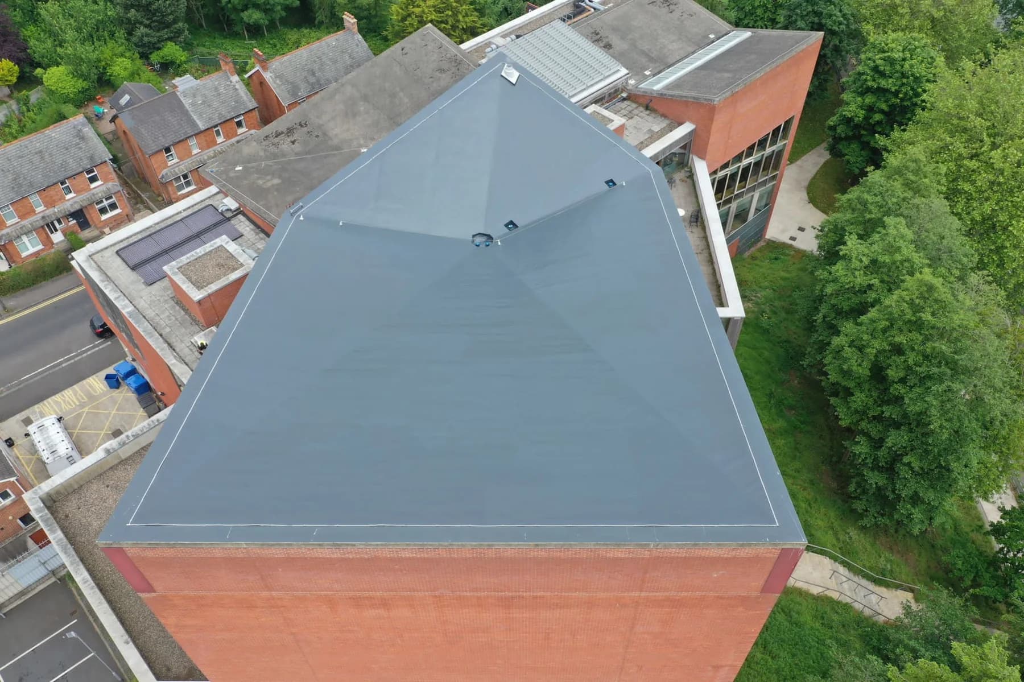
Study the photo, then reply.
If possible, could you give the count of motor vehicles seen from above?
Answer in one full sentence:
In total, 2 motor vehicles can be seen.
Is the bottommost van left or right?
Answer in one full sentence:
The bottommost van is on the left side of the image.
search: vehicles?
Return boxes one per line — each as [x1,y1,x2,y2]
[24,414,86,480]
[88,307,115,336]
